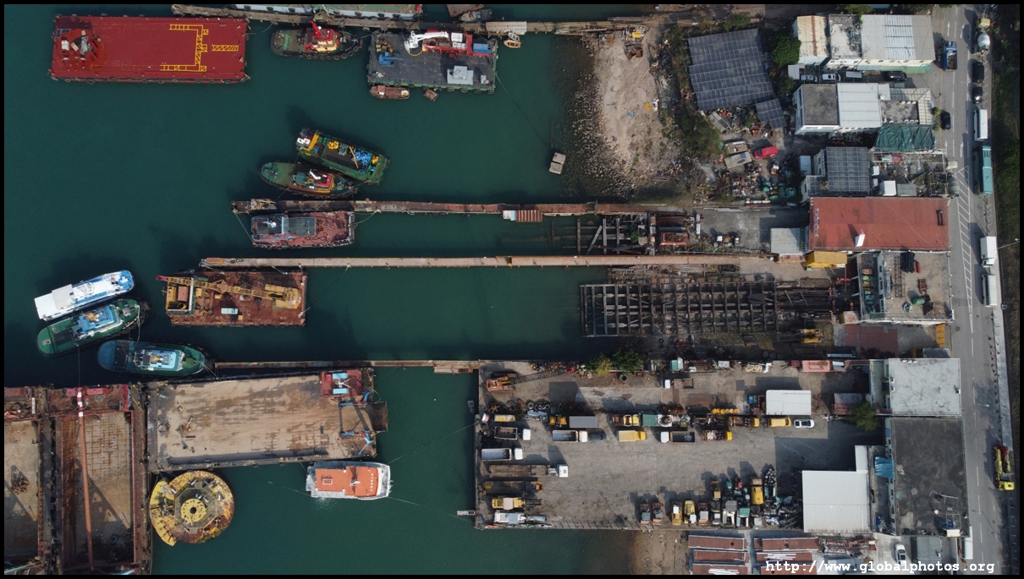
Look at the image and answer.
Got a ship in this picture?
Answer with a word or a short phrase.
Yes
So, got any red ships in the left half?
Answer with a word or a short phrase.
Yes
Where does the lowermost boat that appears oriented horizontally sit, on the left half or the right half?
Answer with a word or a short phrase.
left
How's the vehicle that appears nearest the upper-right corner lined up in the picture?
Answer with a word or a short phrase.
from top to bottom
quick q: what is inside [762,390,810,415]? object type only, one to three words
shed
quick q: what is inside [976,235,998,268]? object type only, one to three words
truck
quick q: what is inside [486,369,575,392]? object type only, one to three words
crane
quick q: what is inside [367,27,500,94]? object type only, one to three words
ship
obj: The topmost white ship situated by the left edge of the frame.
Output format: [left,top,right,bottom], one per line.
[34,271,138,322]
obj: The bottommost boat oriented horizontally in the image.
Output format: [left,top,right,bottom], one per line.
[304,460,394,502]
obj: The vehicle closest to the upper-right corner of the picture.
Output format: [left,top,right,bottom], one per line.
[969,17,989,59]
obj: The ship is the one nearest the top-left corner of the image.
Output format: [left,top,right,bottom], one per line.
[51,15,251,83]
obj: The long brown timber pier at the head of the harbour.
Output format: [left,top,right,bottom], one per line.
[172,5,670,38]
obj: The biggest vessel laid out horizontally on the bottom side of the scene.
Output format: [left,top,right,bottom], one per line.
[142,366,390,473]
